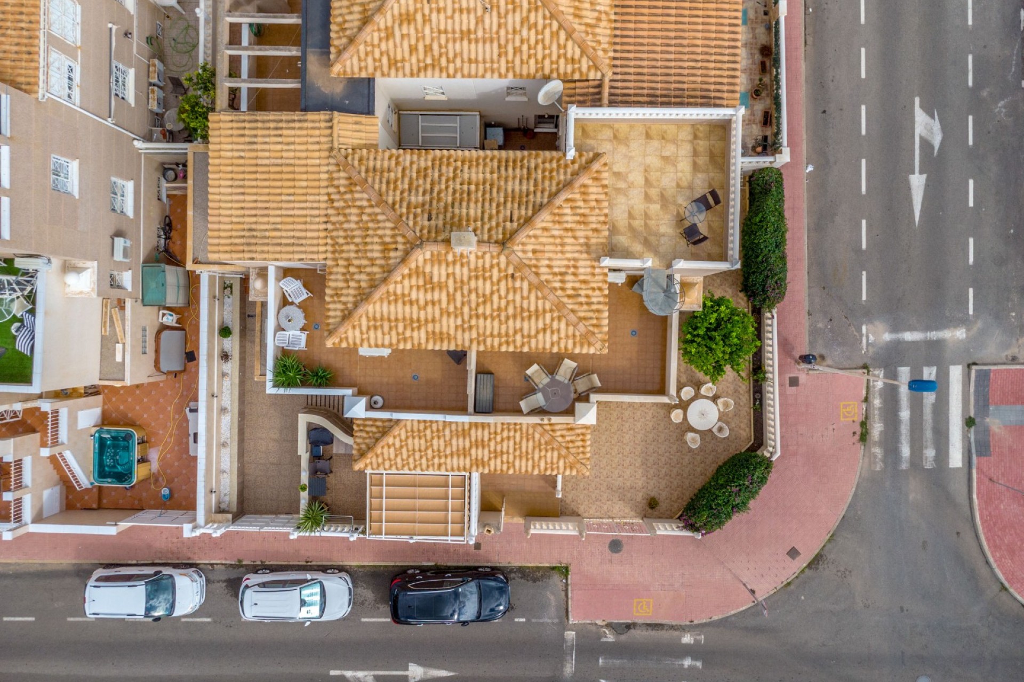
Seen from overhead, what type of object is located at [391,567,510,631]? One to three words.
car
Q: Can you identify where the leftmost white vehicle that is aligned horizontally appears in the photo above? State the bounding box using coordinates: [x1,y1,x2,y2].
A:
[77,567,208,628]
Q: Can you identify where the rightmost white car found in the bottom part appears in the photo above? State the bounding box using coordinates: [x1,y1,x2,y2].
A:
[236,567,355,628]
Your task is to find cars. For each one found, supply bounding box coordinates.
[77,567,208,628]
[236,567,355,628]
[391,567,510,631]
